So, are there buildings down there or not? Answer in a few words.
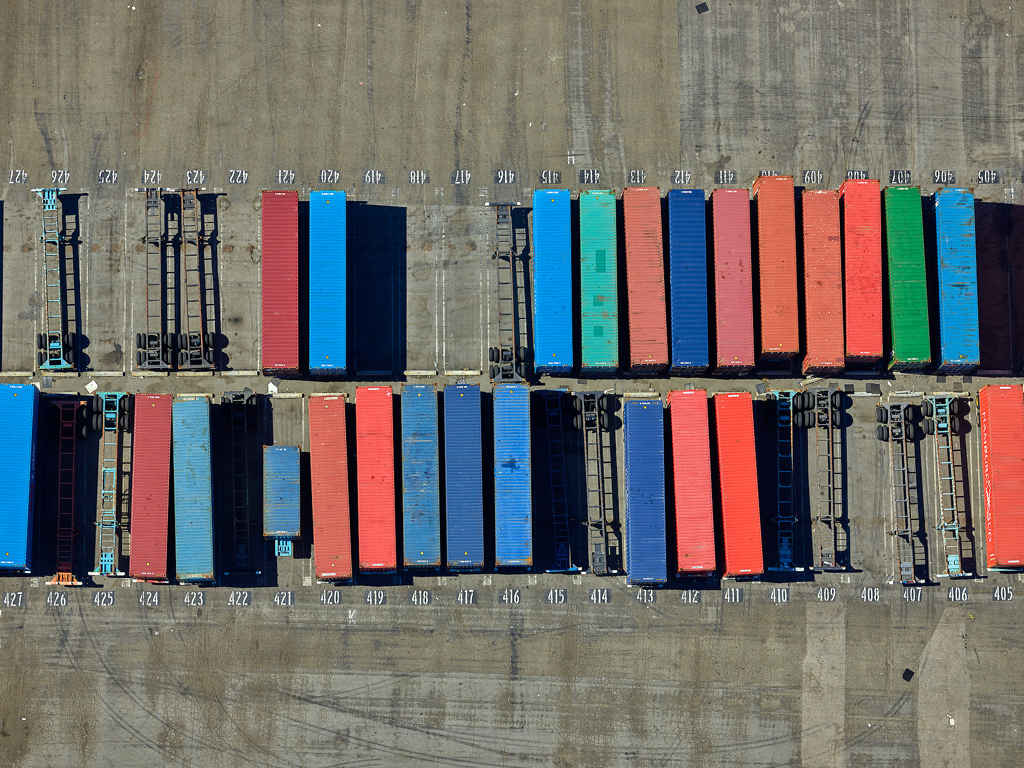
No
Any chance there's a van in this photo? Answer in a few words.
No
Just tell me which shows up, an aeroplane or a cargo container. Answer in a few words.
cargo container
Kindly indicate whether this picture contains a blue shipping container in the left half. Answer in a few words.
Yes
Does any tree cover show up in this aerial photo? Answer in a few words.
No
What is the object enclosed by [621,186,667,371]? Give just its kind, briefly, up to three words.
shipping container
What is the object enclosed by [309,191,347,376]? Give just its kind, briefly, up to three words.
shipping container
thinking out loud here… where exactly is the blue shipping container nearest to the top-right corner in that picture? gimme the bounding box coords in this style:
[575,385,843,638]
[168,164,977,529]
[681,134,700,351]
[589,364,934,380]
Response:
[930,188,980,371]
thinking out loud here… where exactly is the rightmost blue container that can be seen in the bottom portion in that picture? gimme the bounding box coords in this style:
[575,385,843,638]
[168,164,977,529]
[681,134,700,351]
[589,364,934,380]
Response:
[622,400,667,586]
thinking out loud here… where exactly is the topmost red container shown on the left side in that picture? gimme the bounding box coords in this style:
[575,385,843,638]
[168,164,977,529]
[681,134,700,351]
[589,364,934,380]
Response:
[262,190,300,375]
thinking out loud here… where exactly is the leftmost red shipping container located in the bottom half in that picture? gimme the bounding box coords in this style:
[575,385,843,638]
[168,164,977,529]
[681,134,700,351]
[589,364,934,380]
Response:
[129,393,173,580]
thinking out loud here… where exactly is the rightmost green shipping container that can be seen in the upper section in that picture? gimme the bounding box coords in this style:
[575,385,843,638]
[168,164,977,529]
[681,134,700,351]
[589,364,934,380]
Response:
[881,186,931,370]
